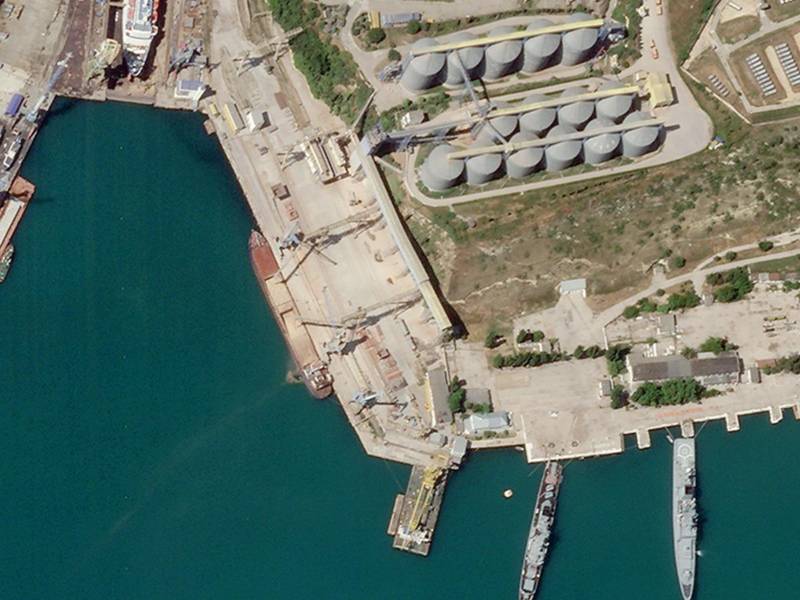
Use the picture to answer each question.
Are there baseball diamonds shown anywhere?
No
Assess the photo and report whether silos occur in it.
Yes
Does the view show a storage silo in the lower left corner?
No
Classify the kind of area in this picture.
port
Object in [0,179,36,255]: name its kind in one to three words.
ship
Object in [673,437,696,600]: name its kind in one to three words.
ship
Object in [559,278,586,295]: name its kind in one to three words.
building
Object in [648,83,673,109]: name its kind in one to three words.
building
